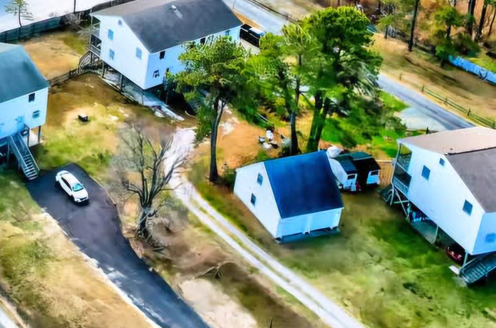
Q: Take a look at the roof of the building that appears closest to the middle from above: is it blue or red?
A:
blue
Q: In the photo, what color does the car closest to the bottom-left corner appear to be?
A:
white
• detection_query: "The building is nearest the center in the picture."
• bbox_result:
[231,151,348,247]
